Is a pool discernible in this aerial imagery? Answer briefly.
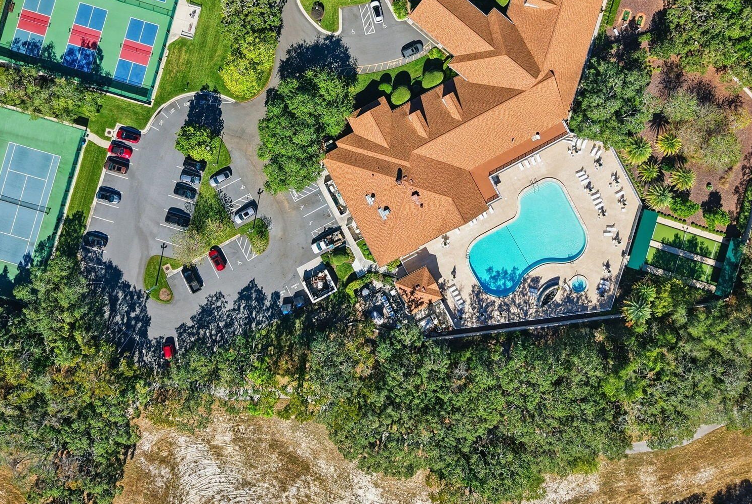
Yes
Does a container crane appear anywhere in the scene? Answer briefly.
No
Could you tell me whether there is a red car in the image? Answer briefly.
Yes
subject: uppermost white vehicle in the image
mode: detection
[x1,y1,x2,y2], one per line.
[370,0,384,24]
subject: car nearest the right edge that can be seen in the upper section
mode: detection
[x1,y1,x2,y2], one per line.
[400,44,424,59]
